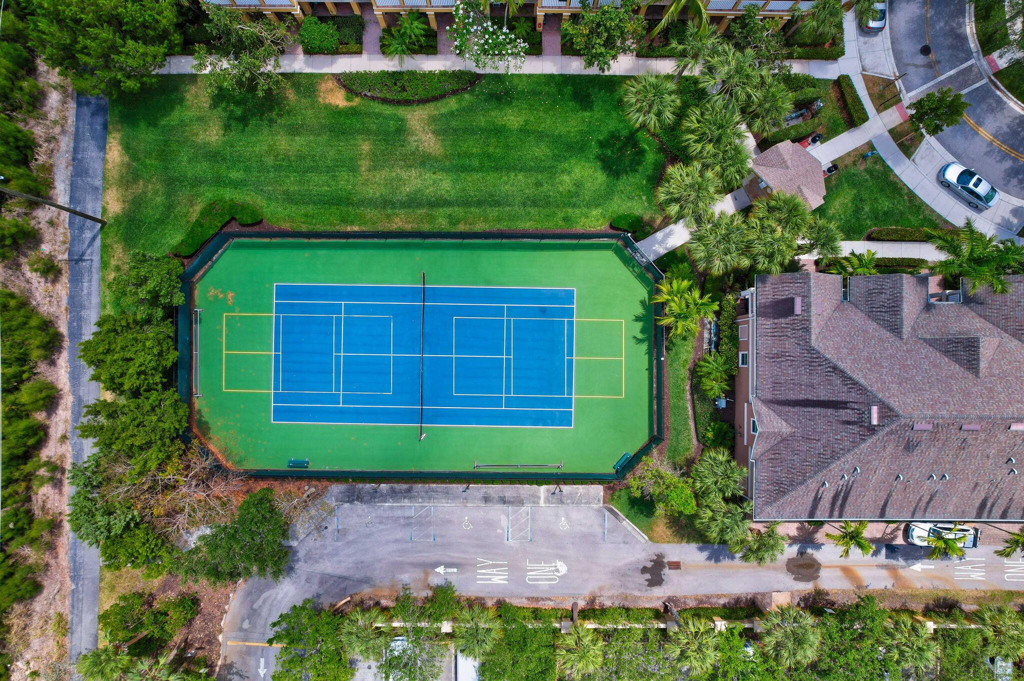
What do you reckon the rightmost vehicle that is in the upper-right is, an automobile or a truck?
automobile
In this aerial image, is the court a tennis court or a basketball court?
tennis court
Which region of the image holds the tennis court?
center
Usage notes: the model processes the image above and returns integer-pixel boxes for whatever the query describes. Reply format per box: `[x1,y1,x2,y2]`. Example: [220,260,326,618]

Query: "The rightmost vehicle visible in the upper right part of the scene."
[940,159,1005,207]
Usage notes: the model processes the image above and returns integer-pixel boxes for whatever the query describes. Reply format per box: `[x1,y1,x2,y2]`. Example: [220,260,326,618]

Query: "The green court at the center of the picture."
[195,241,652,471]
